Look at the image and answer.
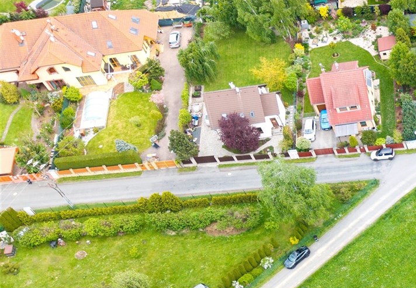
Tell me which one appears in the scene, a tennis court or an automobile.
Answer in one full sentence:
Looking from above, you can make out an automobile.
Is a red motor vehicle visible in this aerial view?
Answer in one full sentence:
No, there's no red motor vehicle here.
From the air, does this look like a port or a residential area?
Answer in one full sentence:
This image shows a residential area.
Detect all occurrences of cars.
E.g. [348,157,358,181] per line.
[282,243,310,267]
[316,107,331,128]
[166,28,180,46]
[190,281,207,288]
[301,117,314,139]
[370,145,394,160]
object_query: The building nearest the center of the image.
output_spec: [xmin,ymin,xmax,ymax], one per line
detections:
[205,84,291,136]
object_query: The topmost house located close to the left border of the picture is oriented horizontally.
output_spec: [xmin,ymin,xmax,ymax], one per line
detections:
[0,12,161,97]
